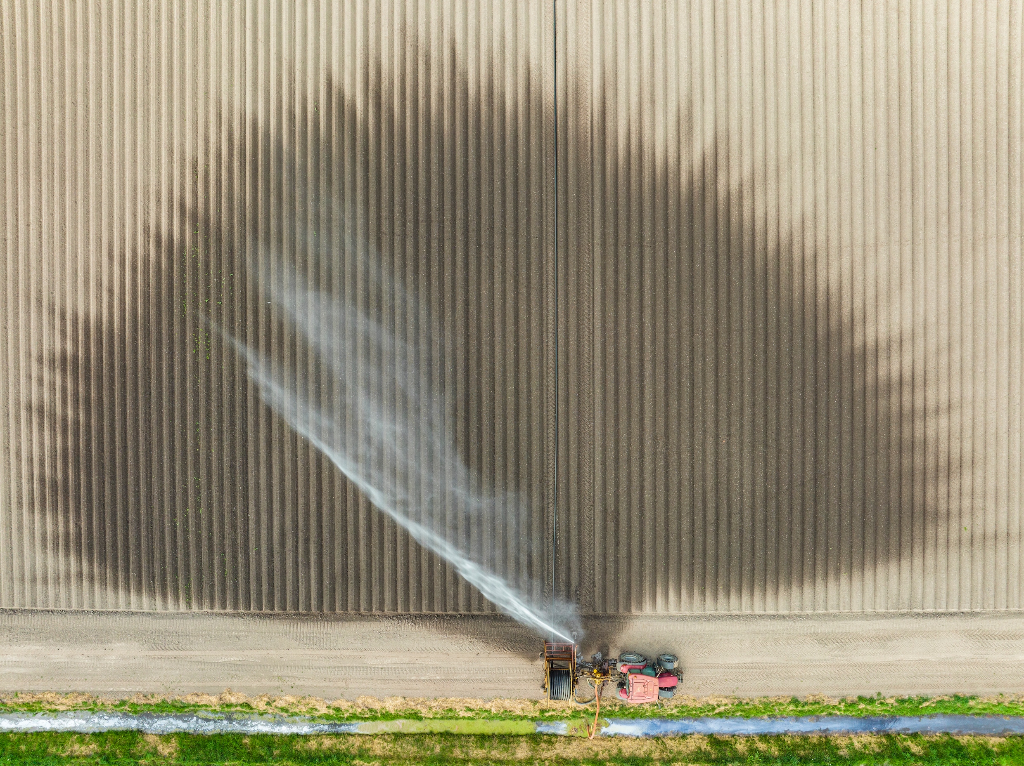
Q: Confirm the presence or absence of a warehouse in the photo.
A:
No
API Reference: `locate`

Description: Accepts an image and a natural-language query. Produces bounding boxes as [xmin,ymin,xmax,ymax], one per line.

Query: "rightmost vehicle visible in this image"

[614,653,683,709]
